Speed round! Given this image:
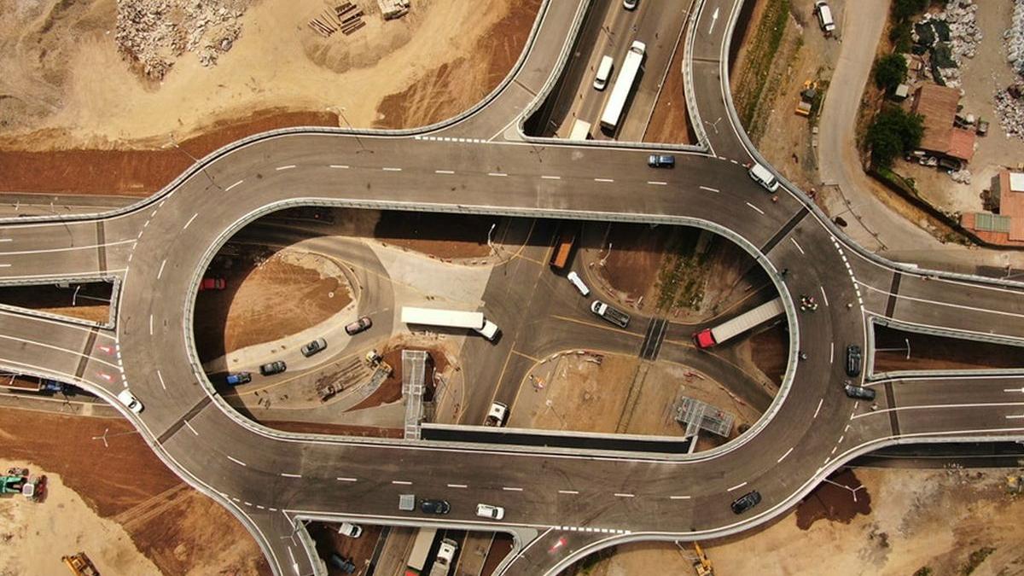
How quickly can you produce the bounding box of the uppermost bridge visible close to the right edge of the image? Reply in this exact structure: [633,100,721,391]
[827,220,1024,348]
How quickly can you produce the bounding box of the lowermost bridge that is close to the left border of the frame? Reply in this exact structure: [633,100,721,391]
[0,301,130,416]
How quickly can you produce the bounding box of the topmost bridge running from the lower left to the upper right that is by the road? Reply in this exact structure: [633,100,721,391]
[414,0,593,143]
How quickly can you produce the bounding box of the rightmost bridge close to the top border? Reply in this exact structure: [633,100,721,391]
[681,0,767,165]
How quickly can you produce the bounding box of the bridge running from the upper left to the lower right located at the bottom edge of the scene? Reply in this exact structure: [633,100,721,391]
[209,493,330,576]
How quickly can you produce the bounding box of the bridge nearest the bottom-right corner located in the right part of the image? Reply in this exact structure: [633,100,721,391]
[817,368,1024,481]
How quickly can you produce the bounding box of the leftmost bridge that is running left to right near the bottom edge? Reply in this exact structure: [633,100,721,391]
[491,526,636,576]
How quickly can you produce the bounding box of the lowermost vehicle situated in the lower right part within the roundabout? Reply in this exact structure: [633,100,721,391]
[729,490,761,515]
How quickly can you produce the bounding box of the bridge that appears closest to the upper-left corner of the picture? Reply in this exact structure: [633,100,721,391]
[0,186,165,289]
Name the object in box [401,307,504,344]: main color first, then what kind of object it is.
white truck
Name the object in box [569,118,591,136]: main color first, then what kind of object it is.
white vehicle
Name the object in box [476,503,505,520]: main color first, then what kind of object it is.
white car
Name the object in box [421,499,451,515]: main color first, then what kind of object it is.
black car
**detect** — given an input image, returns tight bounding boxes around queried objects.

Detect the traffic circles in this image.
[106,125,876,546]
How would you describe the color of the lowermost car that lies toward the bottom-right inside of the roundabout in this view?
black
